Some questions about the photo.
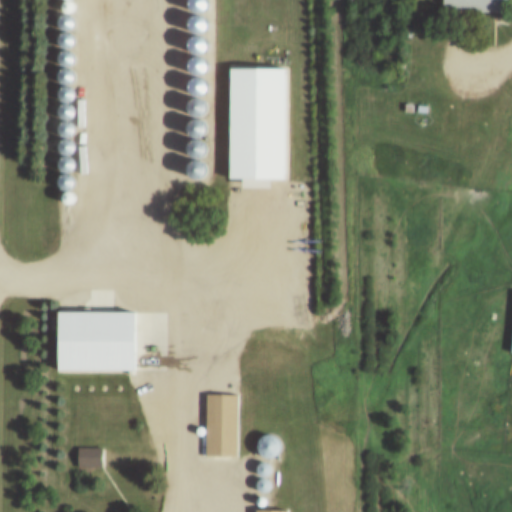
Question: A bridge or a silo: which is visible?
silo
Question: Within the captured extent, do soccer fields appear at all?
No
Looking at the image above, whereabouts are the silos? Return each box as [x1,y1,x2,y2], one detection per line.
[58,138,76,156]
[188,36,208,56]
[257,434,284,460]
[58,104,76,122]
[188,0,208,16]
[58,174,76,191]
[58,86,76,104]
[188,98,208,118]
[256,462,274,479]
[58,51,76,69]
[256,478,274,496]
[188,16,208,36]
[62,0,79,17]
[188,78,208,98]
[58,121,76,139]
[58,16,76,34]
[188,57,208,77]
[62,190,78,207]
[58,156,76,174]
[58,69,76,86]
[188,160,208,180]
[188,140,208,160]
[188,118,208,139]
[58,34,76,52]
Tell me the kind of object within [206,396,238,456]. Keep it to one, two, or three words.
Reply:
shed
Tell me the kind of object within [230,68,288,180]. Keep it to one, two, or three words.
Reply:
shed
